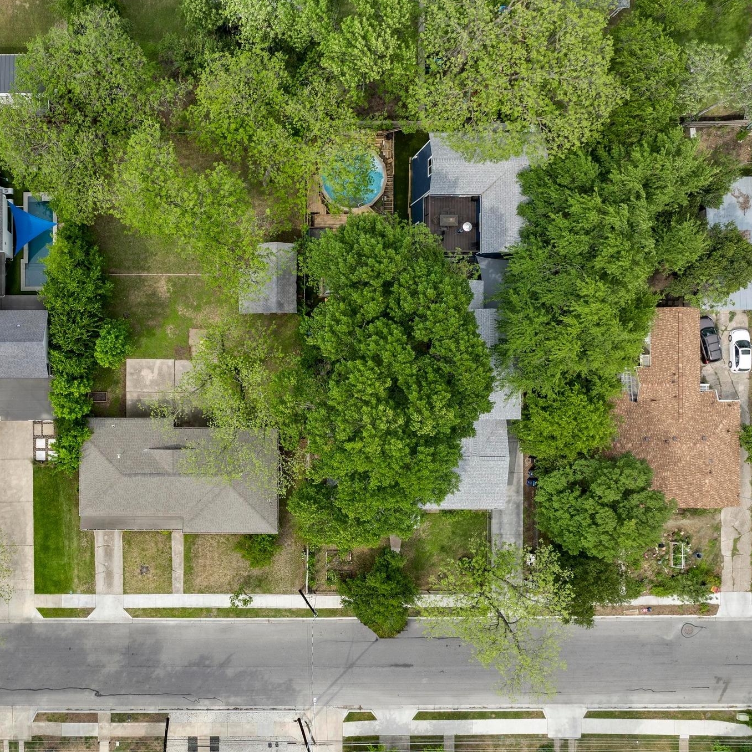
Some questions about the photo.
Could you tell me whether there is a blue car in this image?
No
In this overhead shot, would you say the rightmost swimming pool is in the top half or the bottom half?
top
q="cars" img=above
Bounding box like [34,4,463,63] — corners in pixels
[728,331,752,372]
[700,318,724,363]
